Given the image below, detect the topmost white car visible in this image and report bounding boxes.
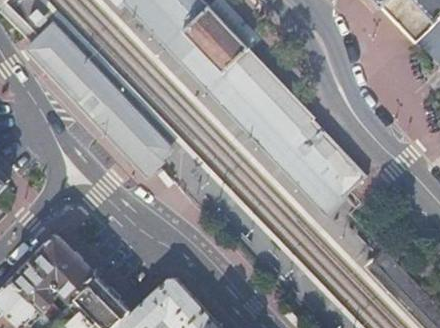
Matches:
[334,16,350,36]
